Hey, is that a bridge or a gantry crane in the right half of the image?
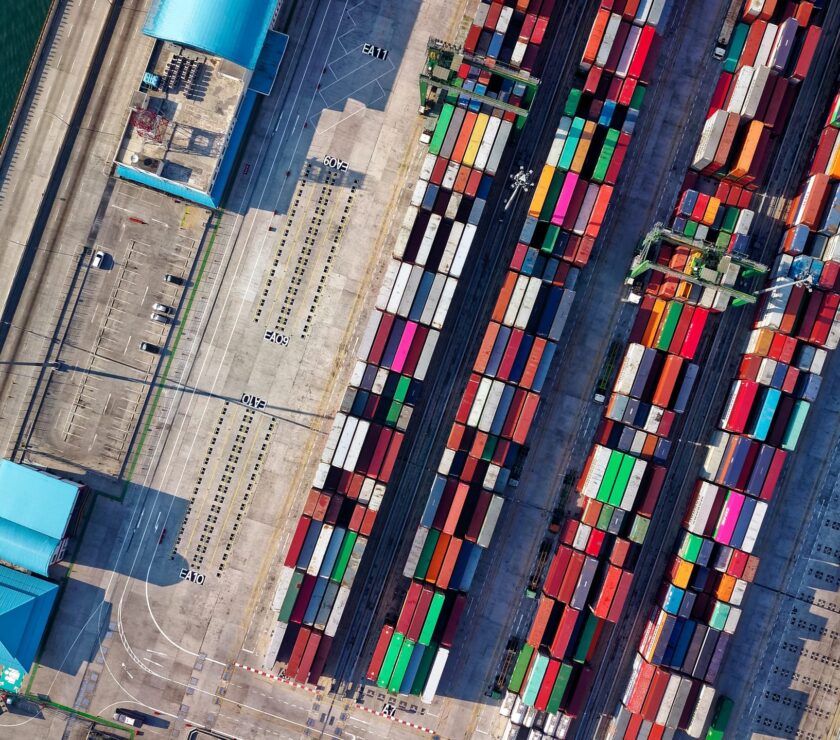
gantry crane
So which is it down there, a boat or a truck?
truck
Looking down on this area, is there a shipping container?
Yes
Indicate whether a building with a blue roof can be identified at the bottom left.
Yes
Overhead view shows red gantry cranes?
No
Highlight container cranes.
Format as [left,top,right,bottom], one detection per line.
[411,30,544,162]
[610,213,773,323]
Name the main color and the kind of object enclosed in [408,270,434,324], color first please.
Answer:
blue shipping container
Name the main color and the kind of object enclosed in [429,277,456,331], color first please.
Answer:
white shipping container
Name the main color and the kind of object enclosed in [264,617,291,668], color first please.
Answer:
white shipping container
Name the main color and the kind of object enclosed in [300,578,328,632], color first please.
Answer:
blue shipping container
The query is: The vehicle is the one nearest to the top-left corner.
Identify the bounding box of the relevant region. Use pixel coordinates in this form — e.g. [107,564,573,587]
[93,252,106,271]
